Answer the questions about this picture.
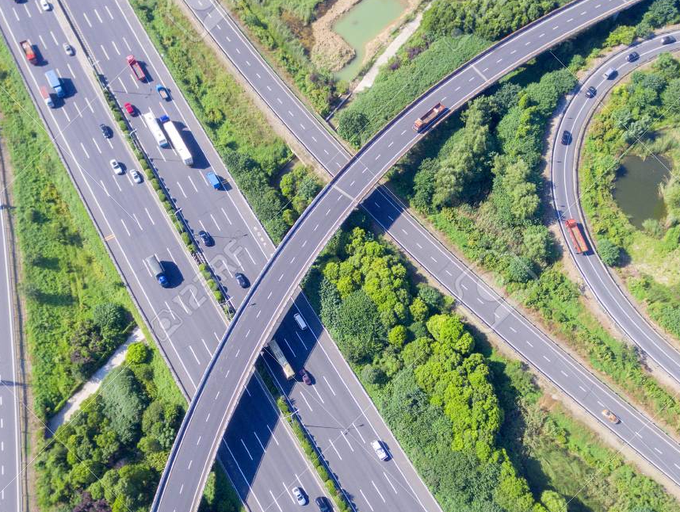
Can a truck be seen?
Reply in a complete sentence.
Yes, there's a truck down there.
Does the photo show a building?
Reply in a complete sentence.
No, no building can be seen from above.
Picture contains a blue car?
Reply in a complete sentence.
Yes, I can see a blue car in this picture.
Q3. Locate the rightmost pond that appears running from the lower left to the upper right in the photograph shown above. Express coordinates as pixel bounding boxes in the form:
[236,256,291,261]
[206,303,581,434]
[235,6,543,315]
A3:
[332,0,411,79]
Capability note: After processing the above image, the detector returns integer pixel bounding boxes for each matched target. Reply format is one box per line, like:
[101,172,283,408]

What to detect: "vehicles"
[39,0,50,11]
[143,111,171,152]
[603,68,617,80]
[561,130,571,145]
[563,214,589,258]
[292,485,308,506]
[39,86,55,108]
[660,35,677,45]
[155,81,171,102]
[625,52,640,62]
[268,333,299,381]
[124,102,136,116]
[43,64,67,99]
[199,230,212,246]
[600,407,620,425]
[372,441,388,462]
[298,366,313,385]
[160,115,197,169]
[293,313,309,332]
[207,171,221,188]
[316,494,333,512]
[585,86,598,99]
[235,272,248,289]
[63,42,73,55]
[126,53,147,82]
[18,37,37,64]
[100,123,112,138]
[110,159,122,174]
[130,168,142,183]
